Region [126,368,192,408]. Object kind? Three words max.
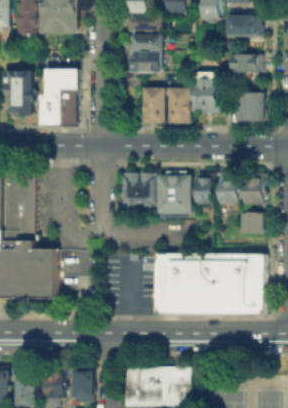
building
